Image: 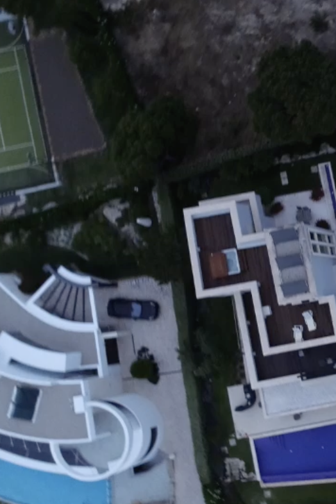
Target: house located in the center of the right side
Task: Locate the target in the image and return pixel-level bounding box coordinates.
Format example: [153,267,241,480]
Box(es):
[183,191,336,418]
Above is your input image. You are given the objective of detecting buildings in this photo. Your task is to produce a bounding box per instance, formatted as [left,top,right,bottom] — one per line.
[183,191,336,418]
[0,263,166,482]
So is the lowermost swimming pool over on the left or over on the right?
left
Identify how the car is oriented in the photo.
horizontally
